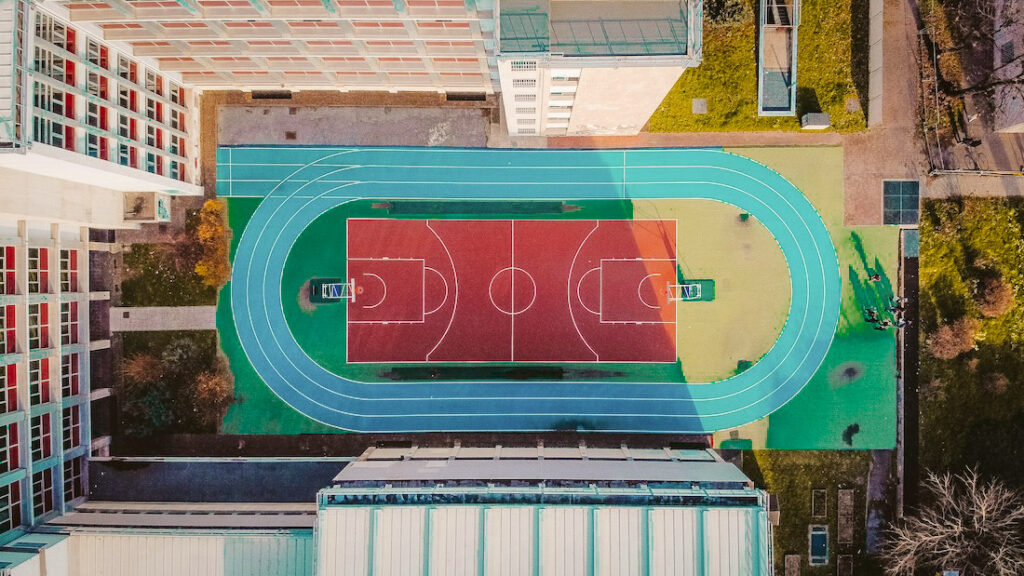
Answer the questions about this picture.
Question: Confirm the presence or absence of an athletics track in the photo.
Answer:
Yes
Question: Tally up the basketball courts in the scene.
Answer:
1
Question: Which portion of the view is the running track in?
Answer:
center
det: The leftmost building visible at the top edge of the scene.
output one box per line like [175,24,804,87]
[0,0,205,188]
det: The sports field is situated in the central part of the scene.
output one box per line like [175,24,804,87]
[217,147,897,448]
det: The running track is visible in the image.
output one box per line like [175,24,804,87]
[217,146,840,432]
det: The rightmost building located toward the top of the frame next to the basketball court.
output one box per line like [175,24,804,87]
[494,0,704,134]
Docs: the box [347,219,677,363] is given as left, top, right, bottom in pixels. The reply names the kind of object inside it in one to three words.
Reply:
basketball court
